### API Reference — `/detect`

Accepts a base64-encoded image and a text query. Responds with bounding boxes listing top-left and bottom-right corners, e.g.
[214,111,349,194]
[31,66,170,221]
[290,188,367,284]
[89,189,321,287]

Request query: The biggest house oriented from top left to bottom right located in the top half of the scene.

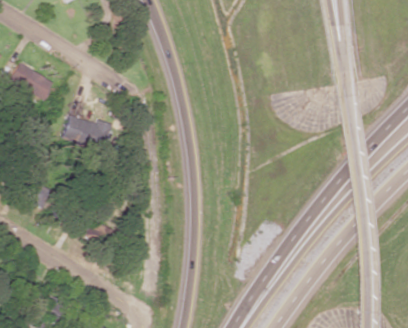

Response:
[10,62,53,98]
